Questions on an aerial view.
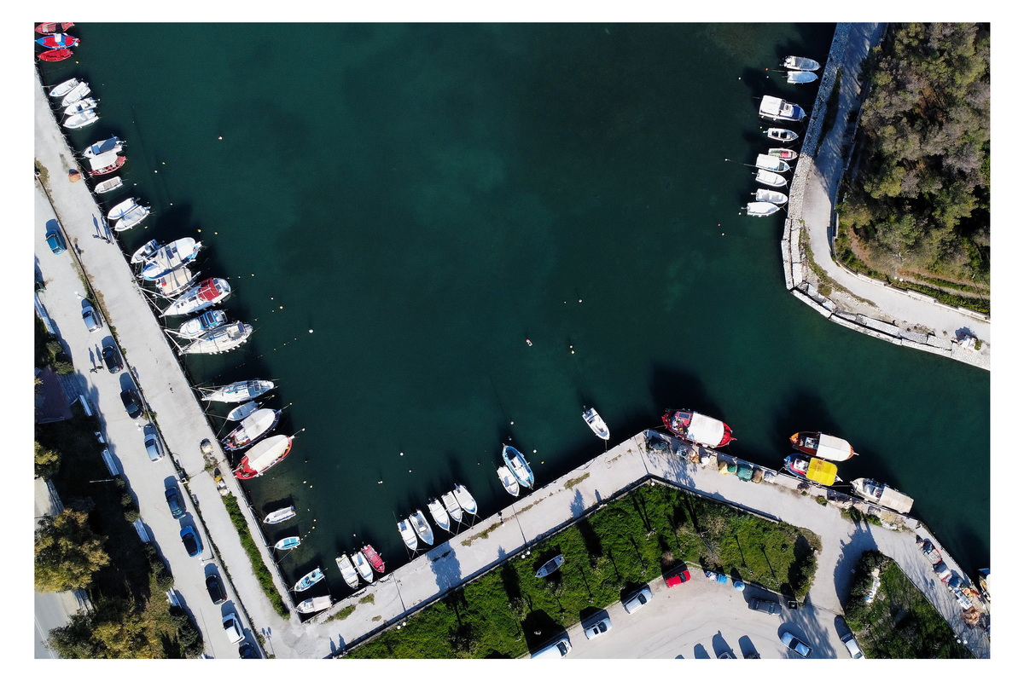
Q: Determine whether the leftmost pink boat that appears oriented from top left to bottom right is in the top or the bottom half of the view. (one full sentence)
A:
You can find the leftmost pink boat that appears oriented from top left to bottom right in the bottom half.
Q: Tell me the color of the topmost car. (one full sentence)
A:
The topmost car is blue.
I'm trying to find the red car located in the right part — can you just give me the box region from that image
[664,569,692,591]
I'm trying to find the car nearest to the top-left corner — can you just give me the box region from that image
[43,226,65,254]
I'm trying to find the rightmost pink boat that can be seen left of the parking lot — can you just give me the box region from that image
[360,542,390,582]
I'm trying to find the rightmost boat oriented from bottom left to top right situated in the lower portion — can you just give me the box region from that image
[536,558,565,577]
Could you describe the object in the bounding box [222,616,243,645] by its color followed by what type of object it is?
white car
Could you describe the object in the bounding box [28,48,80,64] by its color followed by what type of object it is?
red boat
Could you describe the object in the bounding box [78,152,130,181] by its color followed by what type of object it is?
white boat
